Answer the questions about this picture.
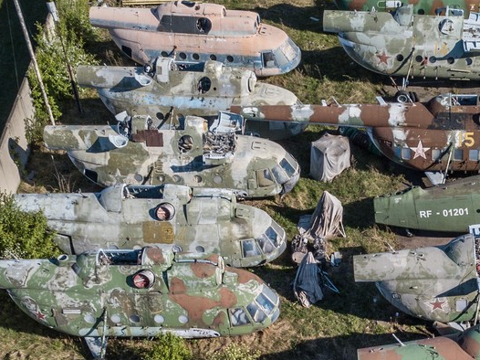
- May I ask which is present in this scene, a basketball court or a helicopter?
helicopter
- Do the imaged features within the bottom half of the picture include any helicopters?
Yes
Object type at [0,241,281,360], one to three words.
helicopter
